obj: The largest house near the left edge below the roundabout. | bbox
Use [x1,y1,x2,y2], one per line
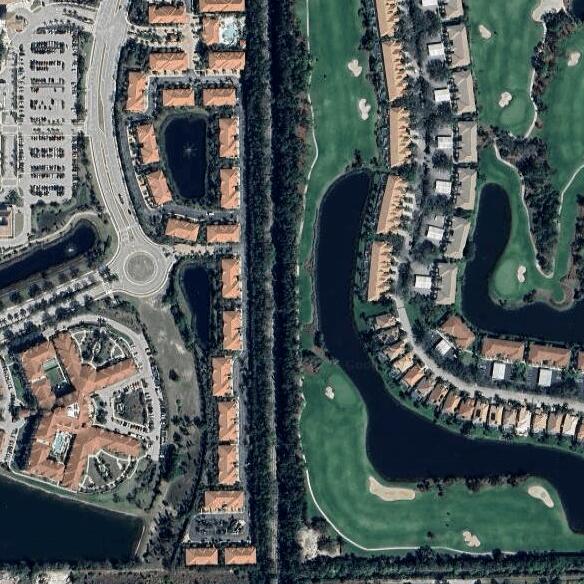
[16,329,143,494]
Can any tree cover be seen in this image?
Yes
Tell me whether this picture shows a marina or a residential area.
residential area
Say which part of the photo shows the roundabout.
left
